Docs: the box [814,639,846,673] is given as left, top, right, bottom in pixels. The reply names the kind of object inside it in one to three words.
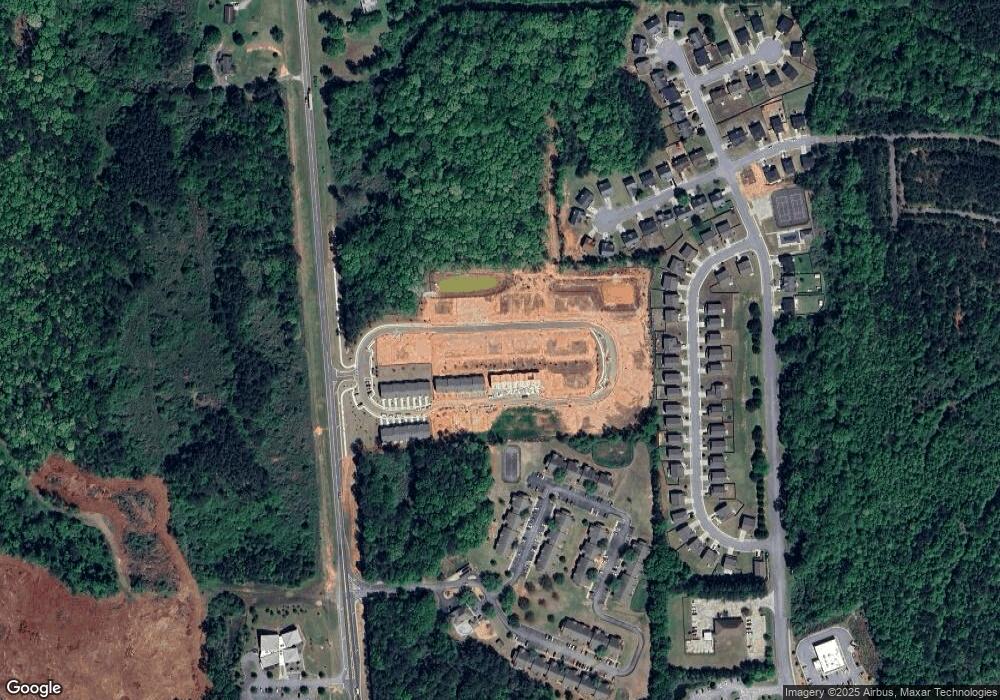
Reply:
building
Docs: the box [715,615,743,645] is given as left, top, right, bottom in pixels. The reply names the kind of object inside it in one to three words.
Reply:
building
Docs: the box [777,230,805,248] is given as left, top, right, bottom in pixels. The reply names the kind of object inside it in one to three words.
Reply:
swimming pool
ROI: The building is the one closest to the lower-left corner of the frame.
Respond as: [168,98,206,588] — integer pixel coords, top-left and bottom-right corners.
[261,630,303,679]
